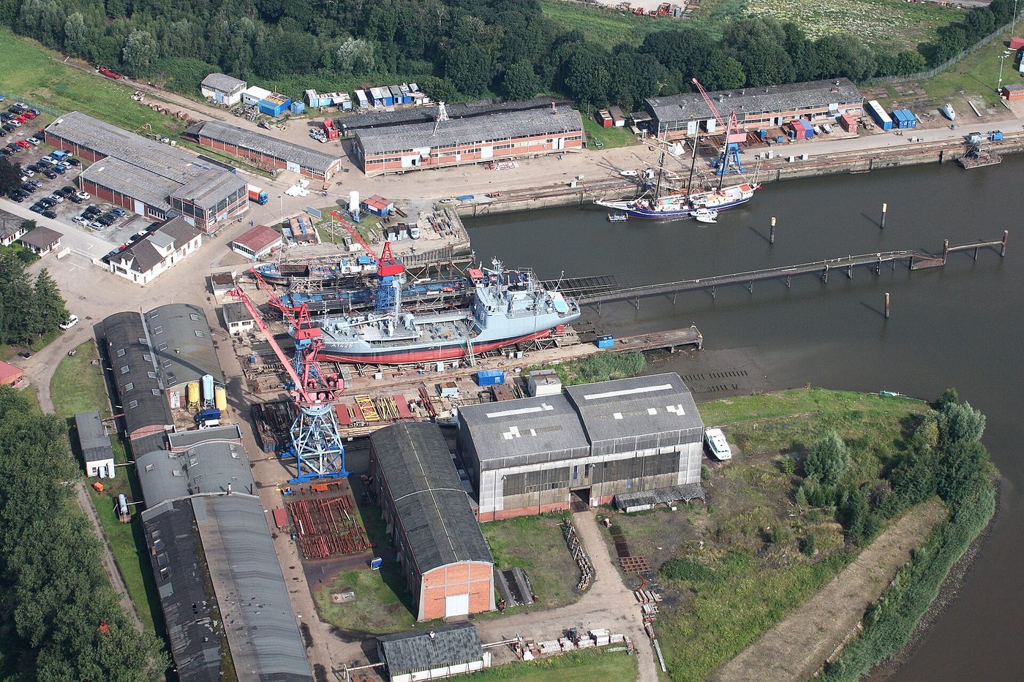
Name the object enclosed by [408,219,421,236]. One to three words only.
vehicle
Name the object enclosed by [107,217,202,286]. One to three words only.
building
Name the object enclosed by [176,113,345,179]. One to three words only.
shed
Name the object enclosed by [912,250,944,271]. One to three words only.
pier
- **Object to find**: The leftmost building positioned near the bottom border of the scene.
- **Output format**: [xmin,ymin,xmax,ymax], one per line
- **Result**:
[140,479,313,682]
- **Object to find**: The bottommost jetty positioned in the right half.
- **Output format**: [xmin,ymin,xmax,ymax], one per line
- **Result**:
[553,315,704,356]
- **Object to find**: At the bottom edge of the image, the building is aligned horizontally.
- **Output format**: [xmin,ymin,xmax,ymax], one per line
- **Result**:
[383,623,490,682]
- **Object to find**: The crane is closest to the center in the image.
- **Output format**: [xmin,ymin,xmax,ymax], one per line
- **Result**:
[328,209,410,321]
